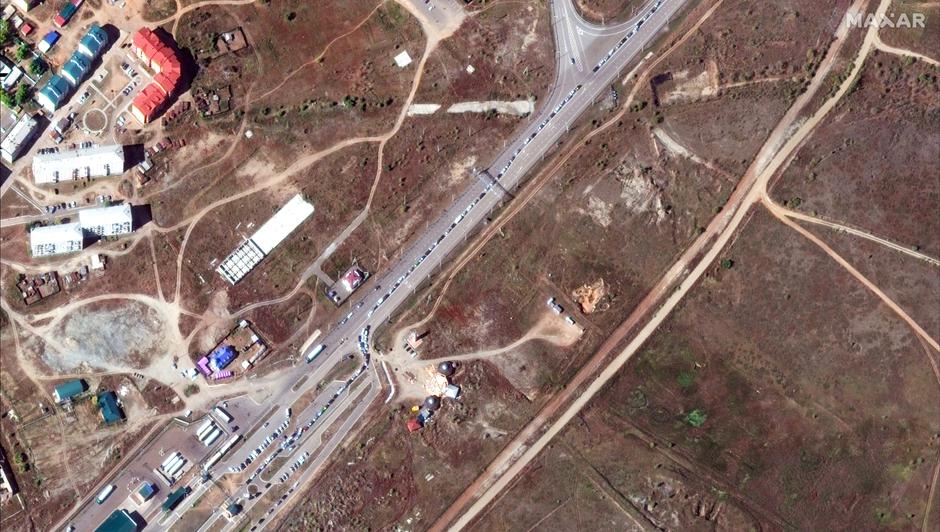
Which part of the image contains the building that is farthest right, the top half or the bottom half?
top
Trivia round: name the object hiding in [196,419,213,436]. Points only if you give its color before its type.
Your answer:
white vehicle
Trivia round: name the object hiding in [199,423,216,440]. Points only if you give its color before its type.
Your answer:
white vehicle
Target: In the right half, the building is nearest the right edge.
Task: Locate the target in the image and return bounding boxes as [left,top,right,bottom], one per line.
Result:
[650,72,673,108]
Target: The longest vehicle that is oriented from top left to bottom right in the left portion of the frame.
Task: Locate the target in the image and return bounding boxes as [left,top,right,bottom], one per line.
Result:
[214,405,232,423]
